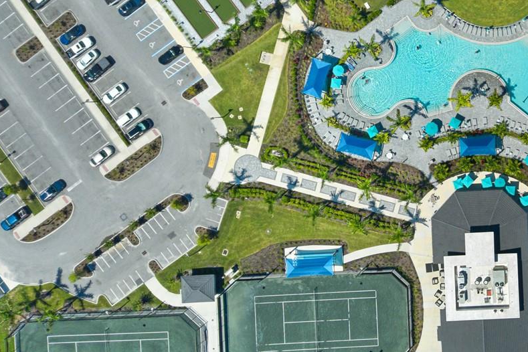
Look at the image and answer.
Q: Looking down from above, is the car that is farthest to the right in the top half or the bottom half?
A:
top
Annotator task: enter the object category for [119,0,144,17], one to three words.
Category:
car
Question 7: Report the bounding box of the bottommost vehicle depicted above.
[1,205,32,230]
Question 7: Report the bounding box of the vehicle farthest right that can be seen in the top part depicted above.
[158,45,183,66]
